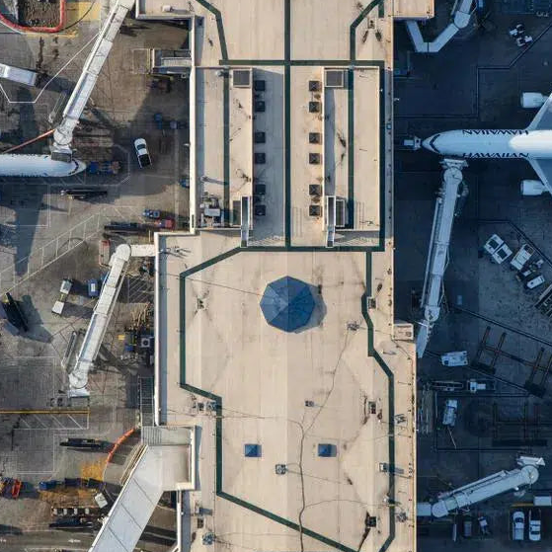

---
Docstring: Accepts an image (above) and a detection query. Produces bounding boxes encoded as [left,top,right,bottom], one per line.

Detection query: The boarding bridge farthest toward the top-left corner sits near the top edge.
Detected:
[51,0,130,163]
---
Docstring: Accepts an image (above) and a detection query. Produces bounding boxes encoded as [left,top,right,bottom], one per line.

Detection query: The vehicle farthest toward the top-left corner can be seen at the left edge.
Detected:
[0,62,41,87]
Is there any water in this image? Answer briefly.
No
